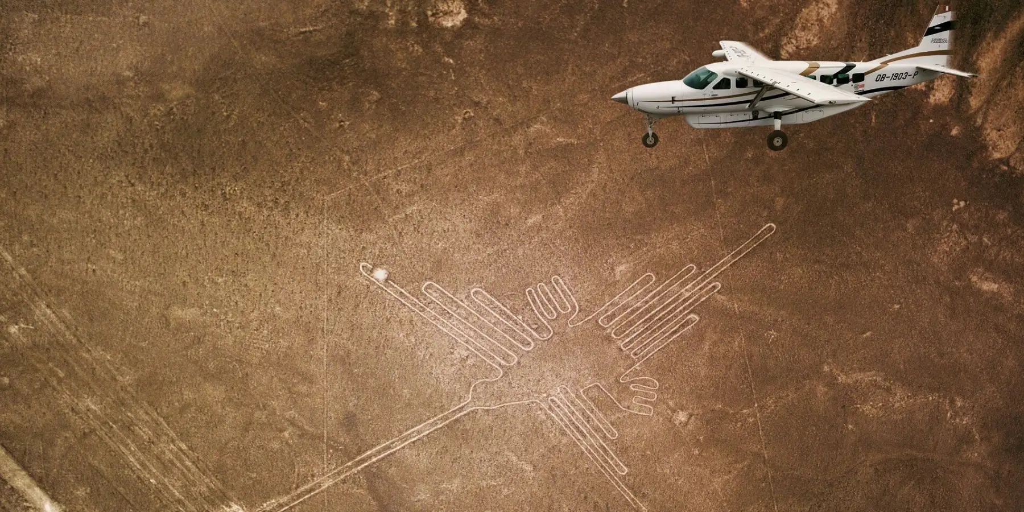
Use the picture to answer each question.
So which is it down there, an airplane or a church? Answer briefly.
airplane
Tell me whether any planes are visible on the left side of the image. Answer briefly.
No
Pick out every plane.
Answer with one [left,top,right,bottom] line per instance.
[611,5,982,151]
